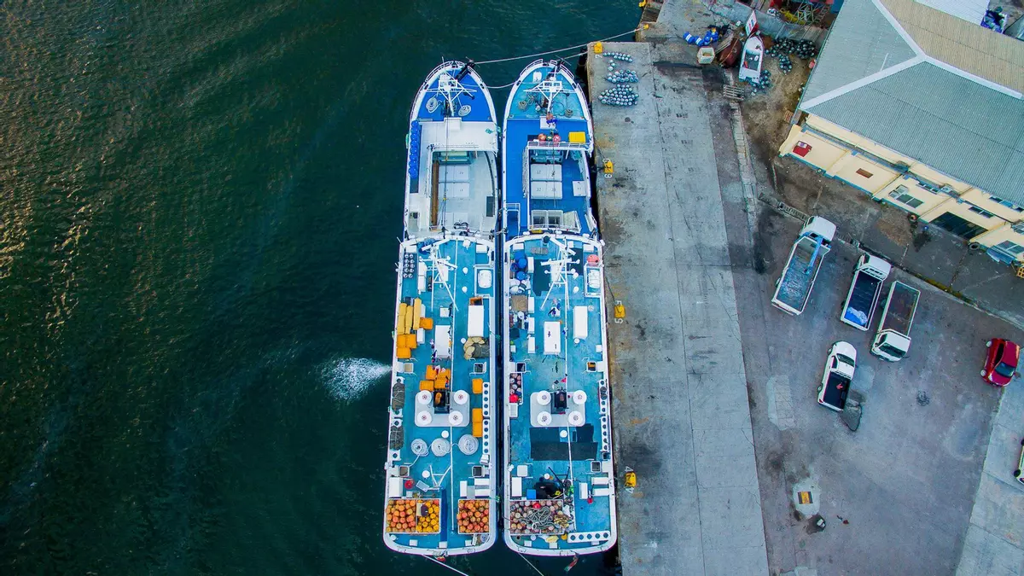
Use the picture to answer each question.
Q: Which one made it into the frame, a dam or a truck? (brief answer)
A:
truck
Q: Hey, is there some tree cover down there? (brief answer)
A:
No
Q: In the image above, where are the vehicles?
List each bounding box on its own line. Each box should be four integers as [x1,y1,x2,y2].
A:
[867,283,920,367]
[814,341,857,417]
[979,334,1024,386]
[838,253,892,332]
[769,216,839,318]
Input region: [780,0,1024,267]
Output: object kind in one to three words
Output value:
warehouse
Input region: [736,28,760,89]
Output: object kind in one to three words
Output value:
boat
